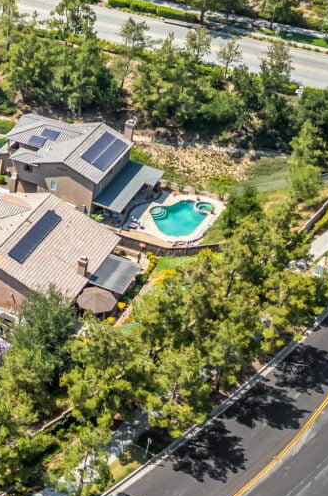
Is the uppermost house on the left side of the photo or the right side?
left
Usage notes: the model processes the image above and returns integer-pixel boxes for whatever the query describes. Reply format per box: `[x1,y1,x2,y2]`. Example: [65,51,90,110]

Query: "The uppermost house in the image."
[0,113,165,226]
